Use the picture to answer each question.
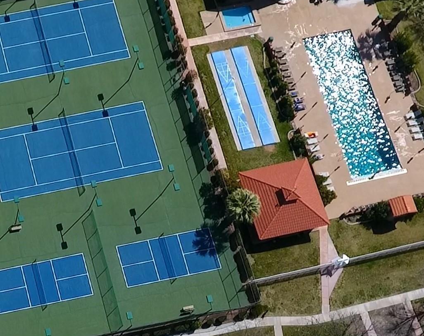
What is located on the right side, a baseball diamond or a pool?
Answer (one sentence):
What appears on the right side is a pool.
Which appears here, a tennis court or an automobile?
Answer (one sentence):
There is a tennis court in the scene.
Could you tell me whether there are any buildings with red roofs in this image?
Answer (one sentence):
Yes, I can see a building with a red roof in this picture.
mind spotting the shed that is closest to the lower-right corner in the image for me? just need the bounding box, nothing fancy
[383,195,418,221]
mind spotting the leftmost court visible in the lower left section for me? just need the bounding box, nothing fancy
[0,253,93,314]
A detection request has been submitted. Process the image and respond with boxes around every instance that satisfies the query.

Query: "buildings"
[238,159,331,240]
[383,195,418,221]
